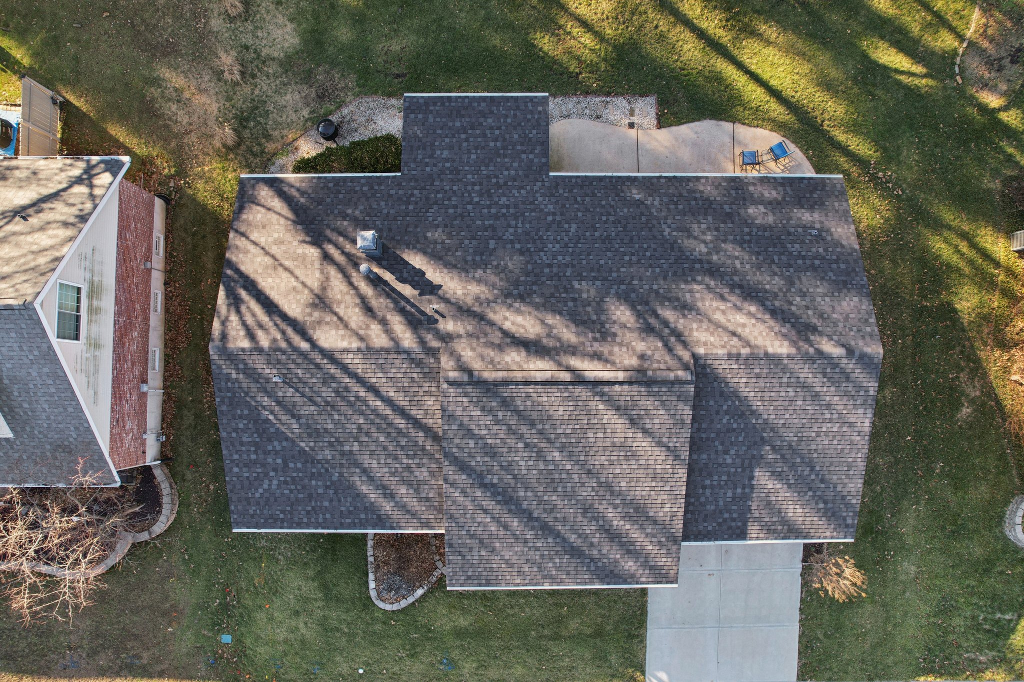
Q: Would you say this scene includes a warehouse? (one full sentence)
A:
No, no warehouse is visible in the scene.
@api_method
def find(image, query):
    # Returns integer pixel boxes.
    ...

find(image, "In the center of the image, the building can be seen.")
[209,92,883,592]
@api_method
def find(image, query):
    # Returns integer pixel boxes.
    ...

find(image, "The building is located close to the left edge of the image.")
[0,152,178,490]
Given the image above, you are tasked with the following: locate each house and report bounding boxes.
[209,92,883,592]
[0,152,178,490]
